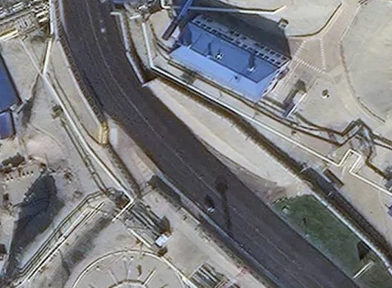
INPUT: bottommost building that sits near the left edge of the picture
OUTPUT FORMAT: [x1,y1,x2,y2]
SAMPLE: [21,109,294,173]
[0,110,16,138]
